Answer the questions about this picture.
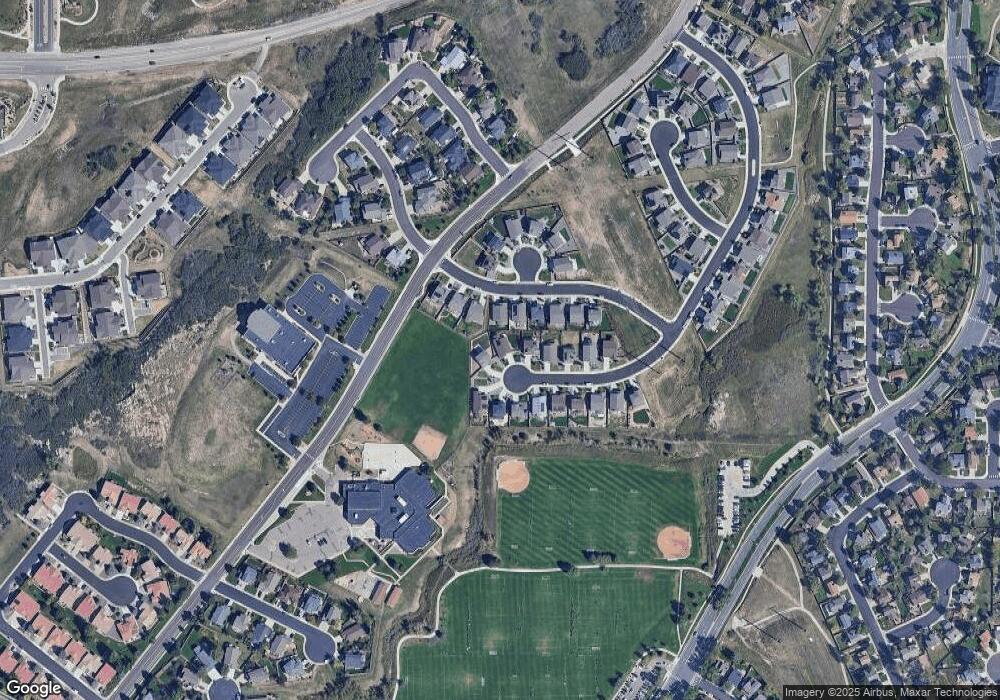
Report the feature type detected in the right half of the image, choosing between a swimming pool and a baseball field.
baseball field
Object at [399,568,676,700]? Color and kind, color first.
green sports field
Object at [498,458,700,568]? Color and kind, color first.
green sports field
